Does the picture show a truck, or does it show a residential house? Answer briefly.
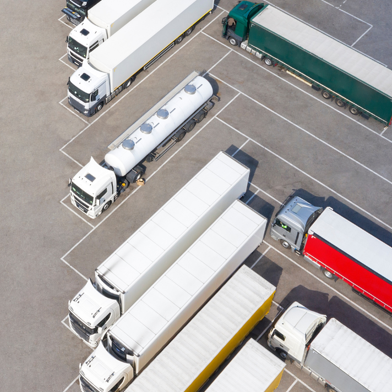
truck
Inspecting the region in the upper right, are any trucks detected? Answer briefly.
Yes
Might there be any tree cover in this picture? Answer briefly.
No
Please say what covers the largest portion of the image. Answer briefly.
paved ground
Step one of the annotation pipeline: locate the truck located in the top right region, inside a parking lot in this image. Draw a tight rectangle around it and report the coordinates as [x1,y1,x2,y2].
[220,2,392,128]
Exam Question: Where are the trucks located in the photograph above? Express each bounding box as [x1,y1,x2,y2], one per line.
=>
[270,199,392,317]
[267,302,392,392]
[127,265,276,392]
[66,0,156,67]
[68,70,222,217]
[66,0,215,115]
[205,338,286,392]
[67,150,251,342]
[220,2,392,128]
[77,200,268,392]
